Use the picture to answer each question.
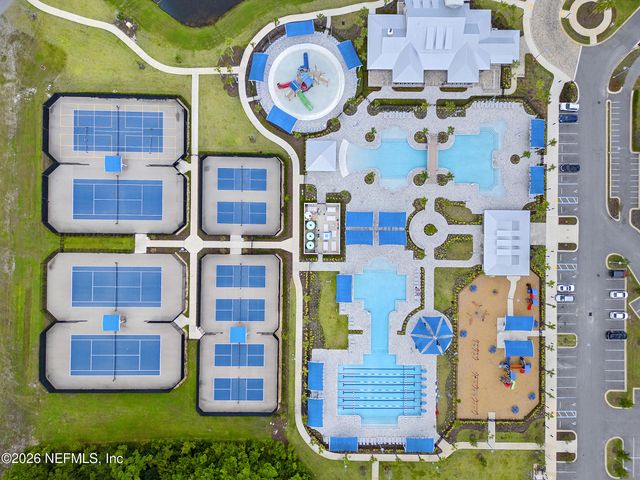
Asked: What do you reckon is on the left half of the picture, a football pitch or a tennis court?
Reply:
tennis court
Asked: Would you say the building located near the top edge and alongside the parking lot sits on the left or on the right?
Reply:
right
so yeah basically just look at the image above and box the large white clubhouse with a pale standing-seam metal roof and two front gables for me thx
[368,0,520,87]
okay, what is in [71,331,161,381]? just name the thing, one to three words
tennis court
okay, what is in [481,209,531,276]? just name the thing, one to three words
building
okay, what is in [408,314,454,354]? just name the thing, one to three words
umbrella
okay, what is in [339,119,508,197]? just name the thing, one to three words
swimming pool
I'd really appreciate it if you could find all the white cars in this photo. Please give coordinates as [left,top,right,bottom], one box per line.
[609,311,628,320]
[609,291,628,299]
[556,284,575,292]
[559,102,579,112]
[555,294,574,302]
